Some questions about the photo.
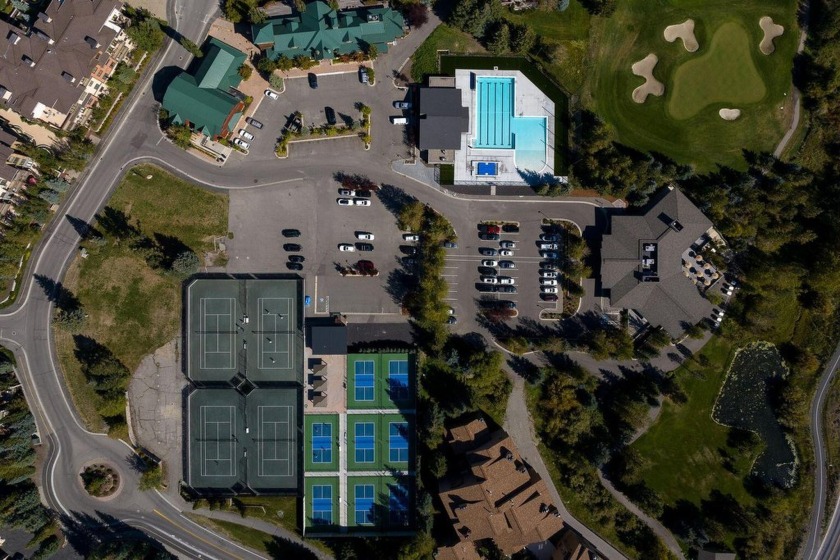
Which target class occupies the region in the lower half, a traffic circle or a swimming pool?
traffic circle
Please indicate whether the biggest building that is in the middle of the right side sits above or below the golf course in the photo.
below it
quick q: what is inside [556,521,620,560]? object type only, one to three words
house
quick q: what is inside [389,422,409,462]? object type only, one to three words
sports court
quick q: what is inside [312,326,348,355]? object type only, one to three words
building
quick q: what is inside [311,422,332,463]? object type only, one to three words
sports court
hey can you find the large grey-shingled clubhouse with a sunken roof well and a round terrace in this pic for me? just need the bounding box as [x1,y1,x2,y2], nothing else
[600,188,713,341]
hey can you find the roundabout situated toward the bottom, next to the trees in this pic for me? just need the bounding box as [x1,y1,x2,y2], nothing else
[57,436,144,523]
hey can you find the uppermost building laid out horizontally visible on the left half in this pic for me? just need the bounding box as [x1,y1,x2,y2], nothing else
[251,0,408,62]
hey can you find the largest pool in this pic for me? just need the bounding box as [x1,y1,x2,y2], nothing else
[471,75,549,178]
